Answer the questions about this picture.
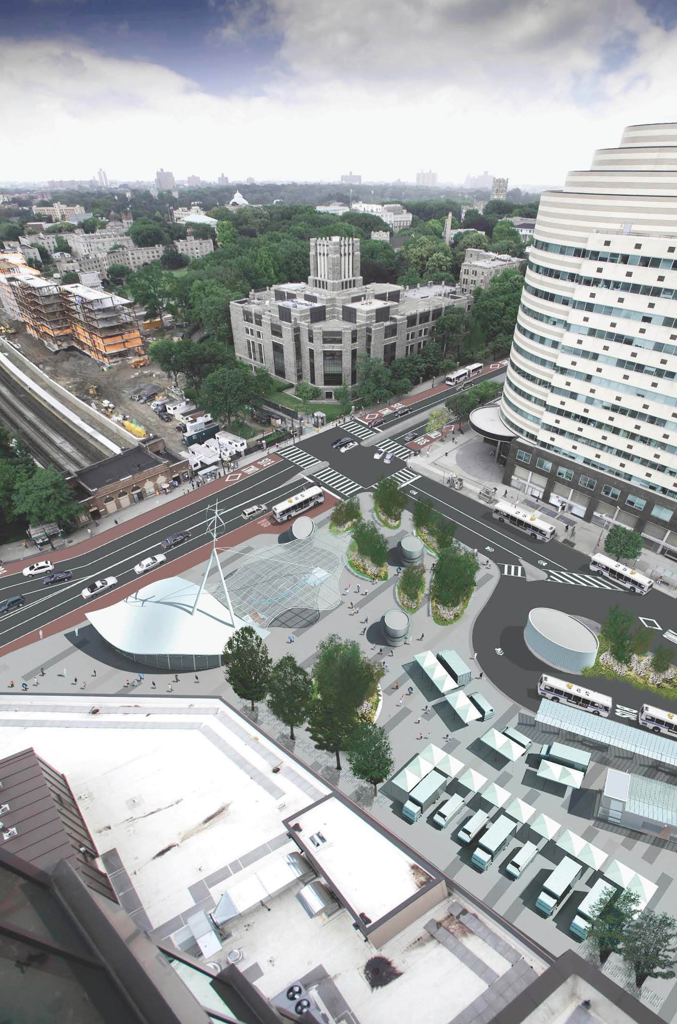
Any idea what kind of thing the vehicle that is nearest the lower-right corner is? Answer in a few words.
truck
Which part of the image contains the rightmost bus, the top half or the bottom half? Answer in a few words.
bottom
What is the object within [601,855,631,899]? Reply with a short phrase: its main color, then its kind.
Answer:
white tent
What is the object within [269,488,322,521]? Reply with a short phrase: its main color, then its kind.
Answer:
white bus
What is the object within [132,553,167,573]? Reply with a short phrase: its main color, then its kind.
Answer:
white car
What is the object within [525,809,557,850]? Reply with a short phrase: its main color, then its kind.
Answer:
white tent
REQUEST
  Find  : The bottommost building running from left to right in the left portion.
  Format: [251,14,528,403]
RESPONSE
[85,577,270,671]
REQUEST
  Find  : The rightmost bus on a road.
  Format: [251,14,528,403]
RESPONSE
[639,698,677,736]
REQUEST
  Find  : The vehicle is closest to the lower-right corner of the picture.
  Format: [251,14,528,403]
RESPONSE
[563,872,619,942]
